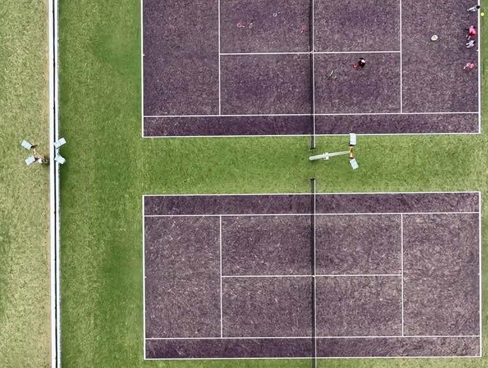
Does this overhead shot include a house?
No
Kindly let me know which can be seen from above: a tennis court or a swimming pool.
tennis court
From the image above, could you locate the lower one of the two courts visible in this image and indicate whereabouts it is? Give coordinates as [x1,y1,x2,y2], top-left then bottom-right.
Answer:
[143,192,482,361]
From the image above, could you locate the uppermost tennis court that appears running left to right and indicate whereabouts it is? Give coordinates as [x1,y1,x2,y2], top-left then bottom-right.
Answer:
[141,0,481,138]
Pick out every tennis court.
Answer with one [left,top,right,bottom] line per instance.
[141,0,481,138]
[143,192,482,361]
